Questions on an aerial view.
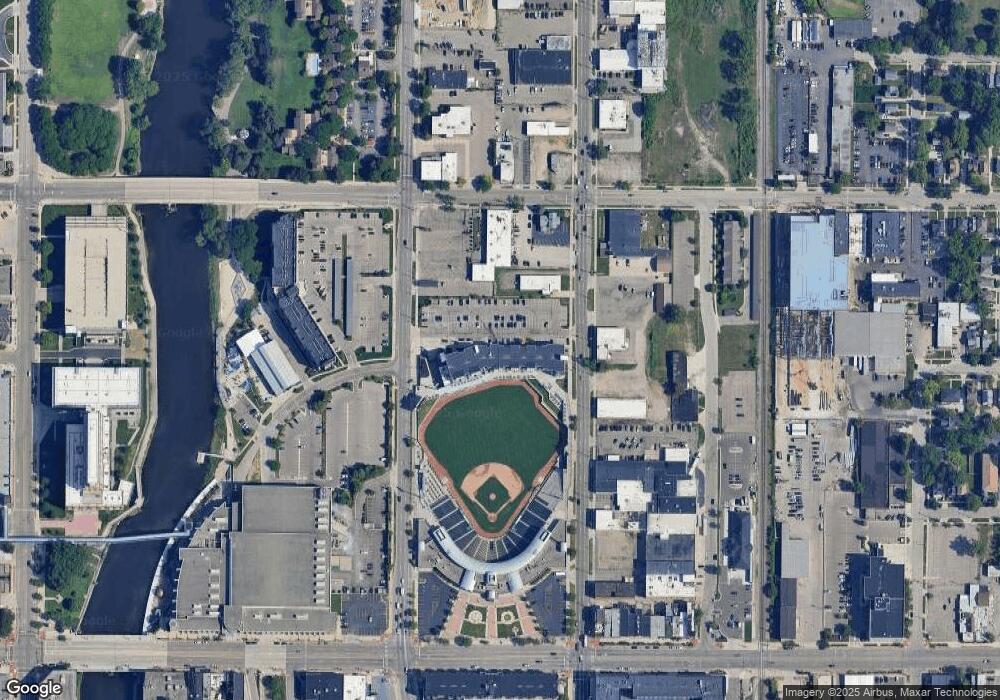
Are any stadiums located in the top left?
No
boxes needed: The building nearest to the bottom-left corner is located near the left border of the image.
[36,671,76,700]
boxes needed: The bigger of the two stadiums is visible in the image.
[415,368,569,598]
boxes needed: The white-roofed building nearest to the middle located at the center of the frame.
[521,275,561,294]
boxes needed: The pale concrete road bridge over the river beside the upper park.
[125,177,259,208]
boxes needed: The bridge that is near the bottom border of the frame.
[45,633,166,673]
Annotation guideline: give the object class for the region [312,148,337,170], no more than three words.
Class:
house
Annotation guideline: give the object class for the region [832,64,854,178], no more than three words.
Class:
building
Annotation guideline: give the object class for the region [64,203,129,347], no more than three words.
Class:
building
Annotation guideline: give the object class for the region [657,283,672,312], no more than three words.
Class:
shed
